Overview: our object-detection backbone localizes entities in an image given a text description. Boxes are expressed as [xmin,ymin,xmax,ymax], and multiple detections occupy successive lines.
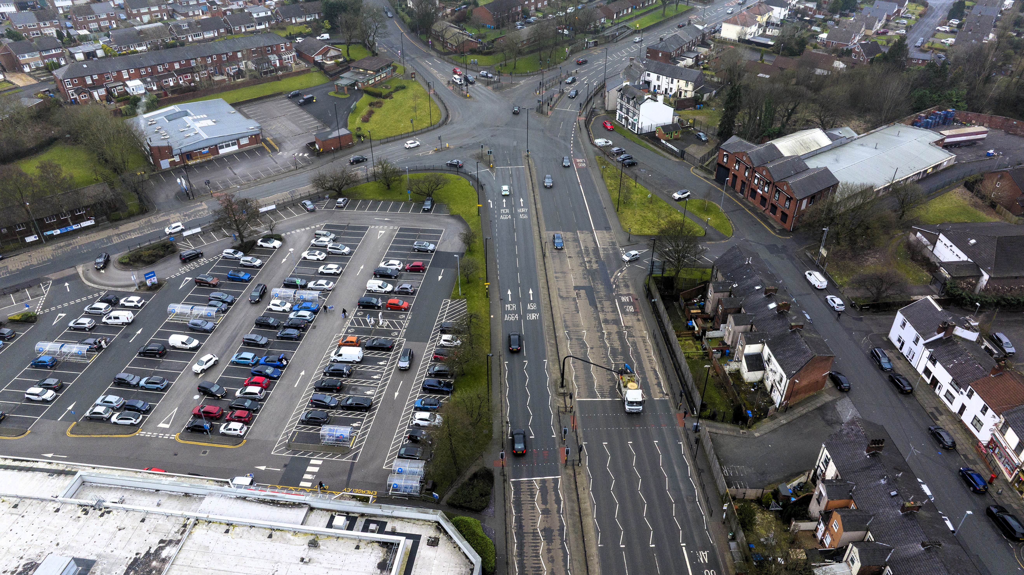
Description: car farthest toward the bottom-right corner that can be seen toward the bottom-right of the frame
[988,508,1024,541]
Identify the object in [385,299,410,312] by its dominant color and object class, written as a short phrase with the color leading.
red vehicle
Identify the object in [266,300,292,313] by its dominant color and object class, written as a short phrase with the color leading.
white vehicle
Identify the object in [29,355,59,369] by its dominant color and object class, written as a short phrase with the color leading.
blue car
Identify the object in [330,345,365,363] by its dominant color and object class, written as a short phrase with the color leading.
white vehicle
